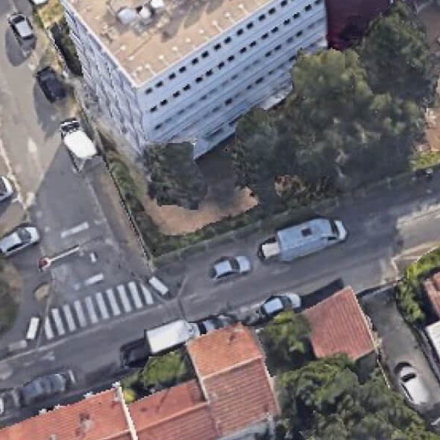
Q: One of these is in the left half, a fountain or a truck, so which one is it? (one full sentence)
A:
It is a truck that can be seen in the left half.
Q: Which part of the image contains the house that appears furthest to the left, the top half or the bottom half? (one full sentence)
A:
The house that appears furthest to the left sits in the bottom half of the picture.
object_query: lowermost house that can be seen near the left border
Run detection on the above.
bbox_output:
[5,386,134,440]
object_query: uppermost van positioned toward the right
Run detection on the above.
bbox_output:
[266,218,341,264]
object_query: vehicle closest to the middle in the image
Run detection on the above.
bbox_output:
[208,254,253,284]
